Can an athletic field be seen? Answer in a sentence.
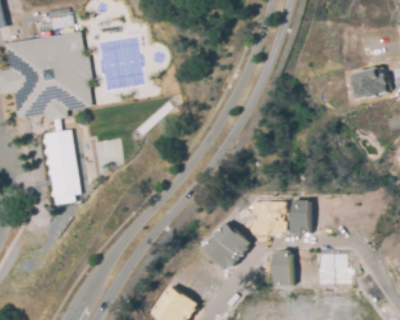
Yes, the picture does show an athletic field.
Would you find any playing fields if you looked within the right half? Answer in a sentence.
No, I can find no playing field within the right half.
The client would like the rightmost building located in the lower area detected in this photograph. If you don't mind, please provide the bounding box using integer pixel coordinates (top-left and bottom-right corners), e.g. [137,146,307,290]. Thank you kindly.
[290,200,312,234]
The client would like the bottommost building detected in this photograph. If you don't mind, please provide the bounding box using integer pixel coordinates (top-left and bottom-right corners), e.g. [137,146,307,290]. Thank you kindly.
[151,287,198,320]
